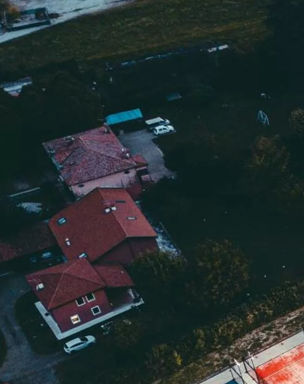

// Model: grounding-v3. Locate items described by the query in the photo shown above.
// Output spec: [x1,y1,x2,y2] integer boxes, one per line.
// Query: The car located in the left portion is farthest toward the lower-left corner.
[61,335,96,354]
